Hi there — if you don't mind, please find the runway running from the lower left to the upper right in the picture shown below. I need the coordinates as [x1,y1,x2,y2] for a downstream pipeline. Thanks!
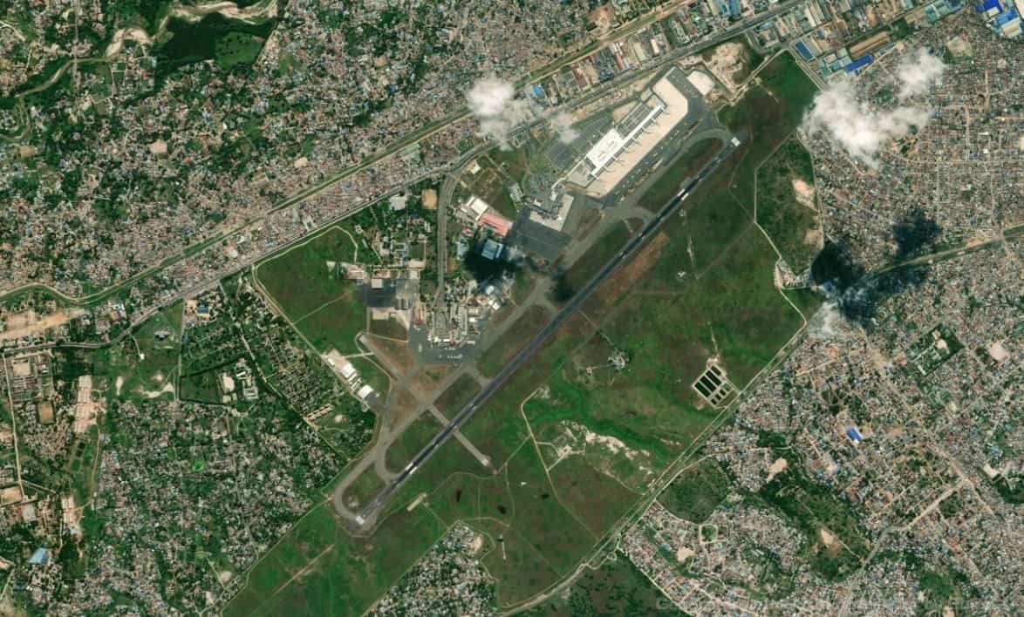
[352,132,743,529]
